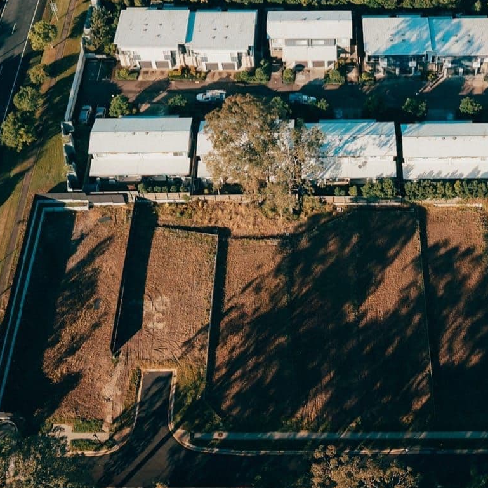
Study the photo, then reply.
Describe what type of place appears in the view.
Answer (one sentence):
This image shows a residential area.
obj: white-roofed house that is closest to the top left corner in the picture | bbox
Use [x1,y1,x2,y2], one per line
[113,10,194,68]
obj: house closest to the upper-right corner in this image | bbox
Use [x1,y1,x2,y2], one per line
[430,18,488,77]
